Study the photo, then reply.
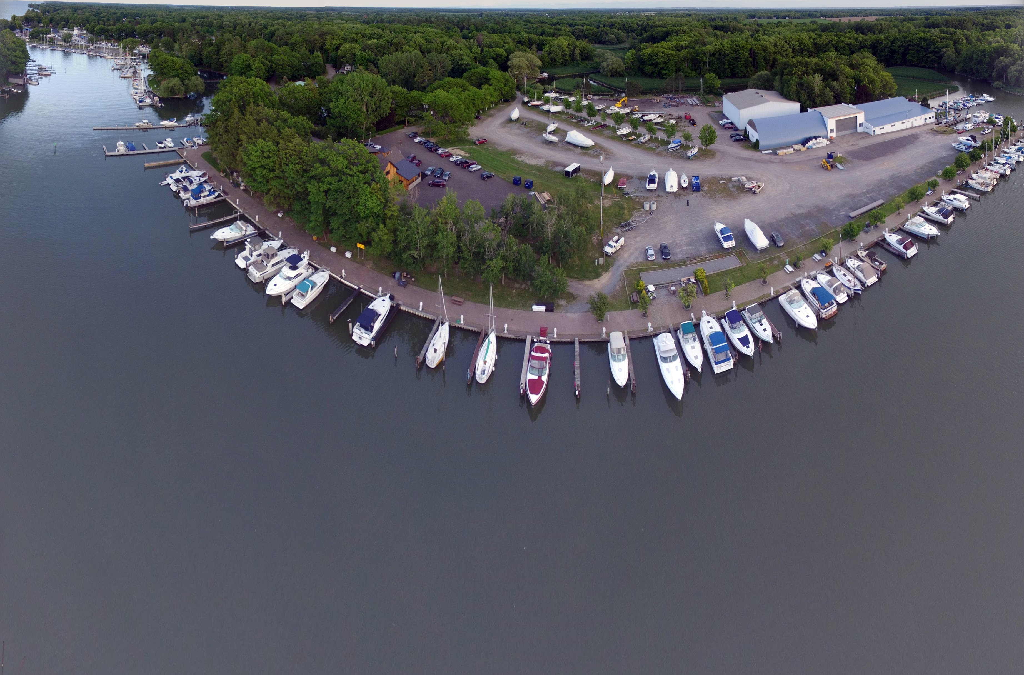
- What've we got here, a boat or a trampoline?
boat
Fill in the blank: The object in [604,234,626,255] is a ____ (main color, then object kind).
white truck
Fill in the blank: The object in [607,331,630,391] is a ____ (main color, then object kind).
white boat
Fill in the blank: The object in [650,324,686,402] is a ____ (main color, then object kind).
white boat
